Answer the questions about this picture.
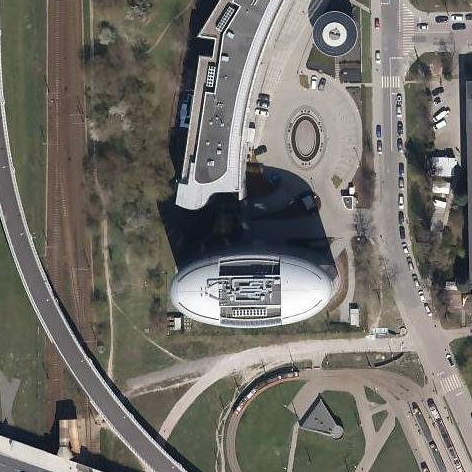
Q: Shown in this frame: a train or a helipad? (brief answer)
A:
train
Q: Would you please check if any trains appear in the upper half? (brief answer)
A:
No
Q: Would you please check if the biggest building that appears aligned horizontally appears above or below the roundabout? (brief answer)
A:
below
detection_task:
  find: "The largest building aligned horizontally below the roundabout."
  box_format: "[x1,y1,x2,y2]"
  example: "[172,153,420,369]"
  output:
[173,252,336,327]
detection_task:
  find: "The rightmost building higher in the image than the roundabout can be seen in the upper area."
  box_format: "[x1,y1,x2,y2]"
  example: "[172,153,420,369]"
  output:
[313,11,358,56]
